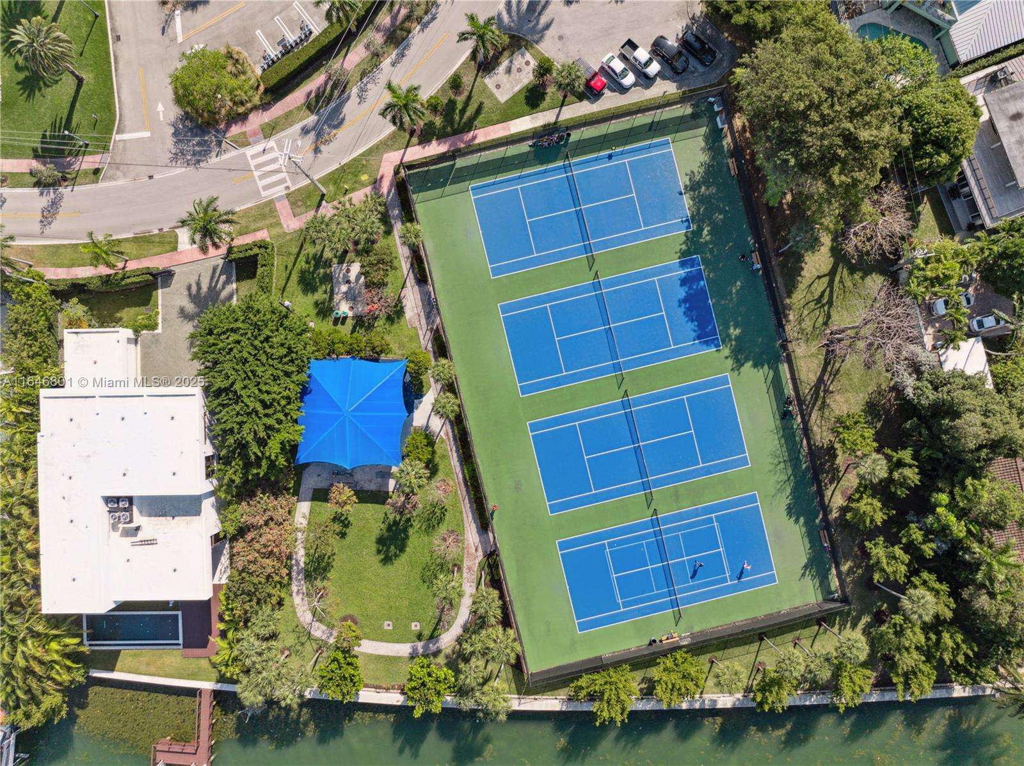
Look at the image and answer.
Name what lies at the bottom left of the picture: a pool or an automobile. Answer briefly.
pool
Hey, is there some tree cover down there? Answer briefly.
Yes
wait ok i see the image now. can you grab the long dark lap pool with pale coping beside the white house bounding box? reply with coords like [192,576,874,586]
[81,611,183,650]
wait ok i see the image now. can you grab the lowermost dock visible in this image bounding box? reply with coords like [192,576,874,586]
[148,690,218,766]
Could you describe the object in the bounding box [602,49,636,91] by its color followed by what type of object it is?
white car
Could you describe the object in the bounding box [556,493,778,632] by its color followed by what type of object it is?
blue tennis court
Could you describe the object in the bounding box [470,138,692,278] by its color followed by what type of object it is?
blue tennis court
